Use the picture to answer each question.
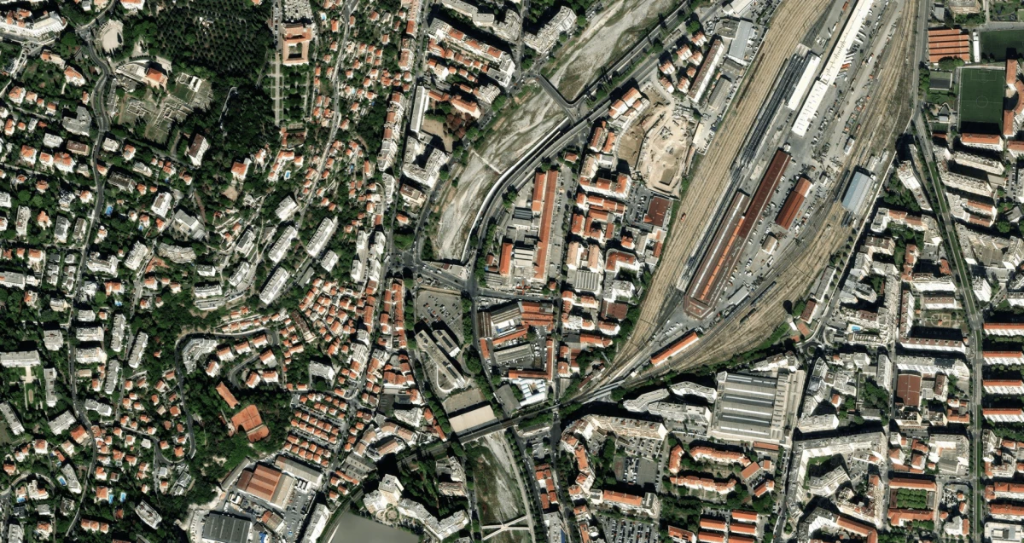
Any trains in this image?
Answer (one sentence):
Yes, the picture does show a train.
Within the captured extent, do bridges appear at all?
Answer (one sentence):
Yes, the image includes a bridge.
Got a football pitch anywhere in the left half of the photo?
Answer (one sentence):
No, no football pitch appears in the left half of the photo.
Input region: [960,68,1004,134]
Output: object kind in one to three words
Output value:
soccer field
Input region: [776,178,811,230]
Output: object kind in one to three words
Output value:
shed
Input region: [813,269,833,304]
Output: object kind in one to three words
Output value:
house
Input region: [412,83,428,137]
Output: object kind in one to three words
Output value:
building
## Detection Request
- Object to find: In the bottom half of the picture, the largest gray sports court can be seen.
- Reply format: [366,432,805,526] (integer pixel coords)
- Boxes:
[636,459,657,487]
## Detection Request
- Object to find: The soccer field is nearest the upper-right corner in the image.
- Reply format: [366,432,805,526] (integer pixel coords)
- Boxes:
[980,29,1024,62]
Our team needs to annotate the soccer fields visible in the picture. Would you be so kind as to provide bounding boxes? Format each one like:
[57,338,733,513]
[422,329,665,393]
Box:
[980,29,1024,62]
[960,68,1004,134]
